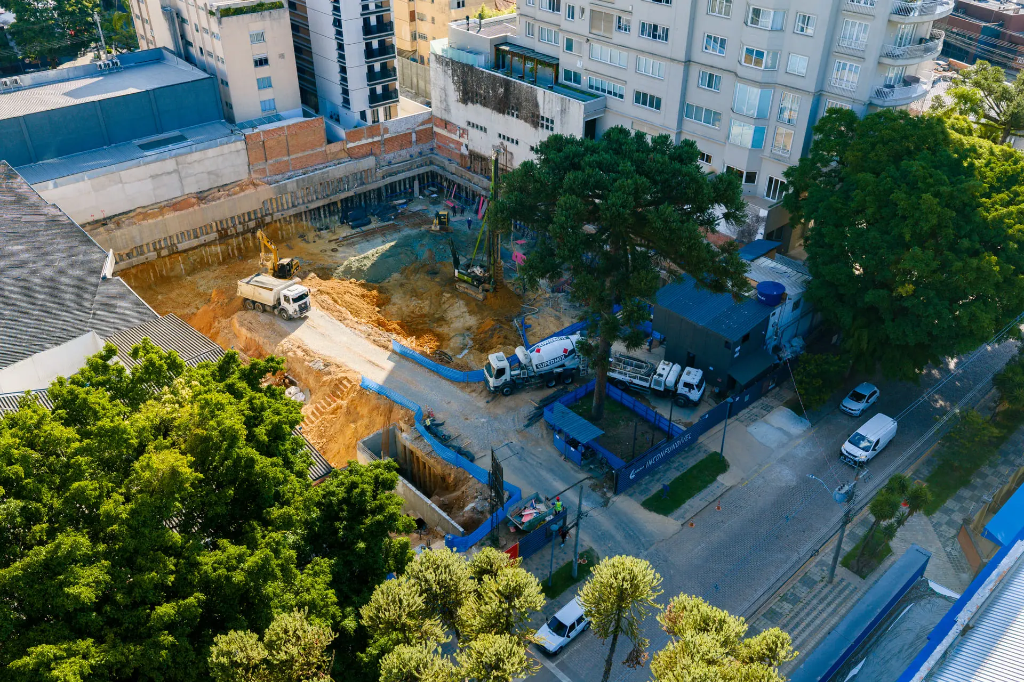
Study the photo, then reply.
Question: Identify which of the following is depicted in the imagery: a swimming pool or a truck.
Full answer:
Of the two, only a truck appears.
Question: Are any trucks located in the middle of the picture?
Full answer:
Yes, I can see a truck in the middle of the picture.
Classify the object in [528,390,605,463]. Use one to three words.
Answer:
shed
